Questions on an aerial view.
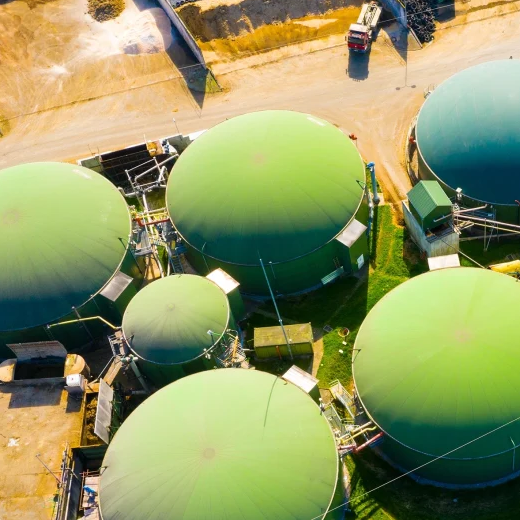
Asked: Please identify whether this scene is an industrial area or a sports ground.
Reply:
industrial area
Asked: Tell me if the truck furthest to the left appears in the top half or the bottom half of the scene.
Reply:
top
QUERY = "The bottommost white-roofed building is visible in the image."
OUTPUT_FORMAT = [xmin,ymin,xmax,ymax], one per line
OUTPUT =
[281,365,324,405]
